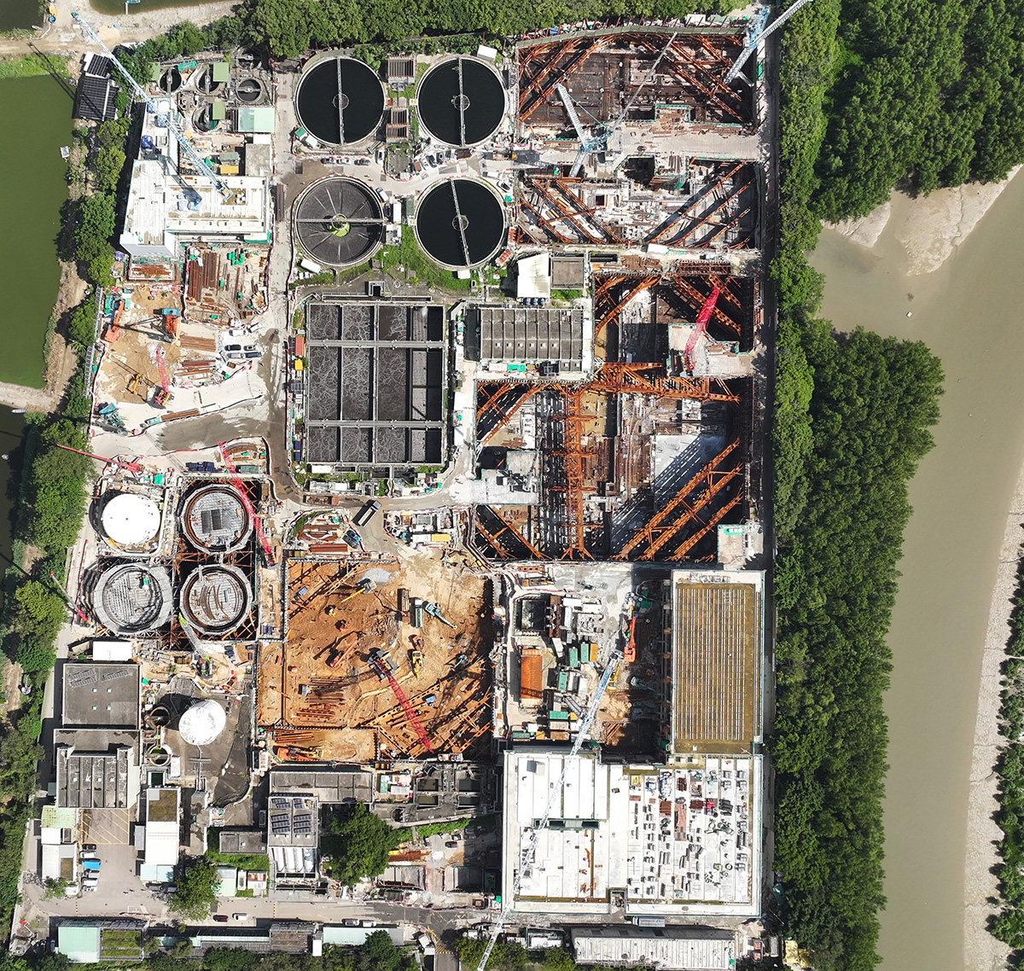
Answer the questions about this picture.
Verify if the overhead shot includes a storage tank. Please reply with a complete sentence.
Yes, there's a storage tank here.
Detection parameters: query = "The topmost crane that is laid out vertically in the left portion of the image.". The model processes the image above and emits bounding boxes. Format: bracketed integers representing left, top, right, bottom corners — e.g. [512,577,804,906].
[151,344,171,409]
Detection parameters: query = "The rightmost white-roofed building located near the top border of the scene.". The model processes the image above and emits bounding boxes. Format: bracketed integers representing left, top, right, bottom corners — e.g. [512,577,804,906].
[476,45,498,65]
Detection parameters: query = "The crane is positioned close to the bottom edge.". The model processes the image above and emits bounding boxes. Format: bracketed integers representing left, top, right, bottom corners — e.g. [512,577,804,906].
[470,638,632,971]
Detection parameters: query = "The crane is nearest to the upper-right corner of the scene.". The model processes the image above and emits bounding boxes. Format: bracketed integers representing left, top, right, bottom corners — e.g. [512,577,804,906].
[720,0,820,86]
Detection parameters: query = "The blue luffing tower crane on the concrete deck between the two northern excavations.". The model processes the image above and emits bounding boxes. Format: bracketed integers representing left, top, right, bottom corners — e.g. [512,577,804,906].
[554,29,679,180]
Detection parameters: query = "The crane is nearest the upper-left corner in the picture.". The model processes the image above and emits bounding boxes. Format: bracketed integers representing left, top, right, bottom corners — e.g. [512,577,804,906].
[73,12,232,206]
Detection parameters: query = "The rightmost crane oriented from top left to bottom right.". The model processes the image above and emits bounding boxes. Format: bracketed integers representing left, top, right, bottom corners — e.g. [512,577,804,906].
[367,649,436,753]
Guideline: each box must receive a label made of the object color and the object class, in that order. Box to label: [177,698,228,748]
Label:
white storage tank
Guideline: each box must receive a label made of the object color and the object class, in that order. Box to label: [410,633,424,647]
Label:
red work vehicle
